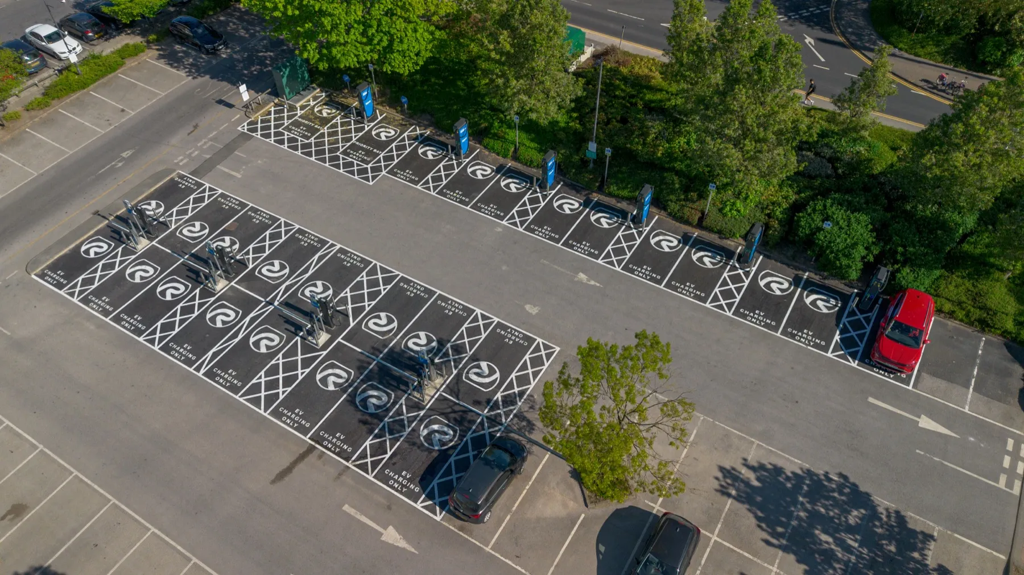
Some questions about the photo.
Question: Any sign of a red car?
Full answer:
Yes, a red car can be made out from above.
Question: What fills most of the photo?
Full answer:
The scene is dominated by paved ground.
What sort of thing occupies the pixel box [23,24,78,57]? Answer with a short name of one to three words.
car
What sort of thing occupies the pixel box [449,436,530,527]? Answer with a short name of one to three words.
car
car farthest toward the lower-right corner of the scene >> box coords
[872,291,930,370]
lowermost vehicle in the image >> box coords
[626,510,701,575]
